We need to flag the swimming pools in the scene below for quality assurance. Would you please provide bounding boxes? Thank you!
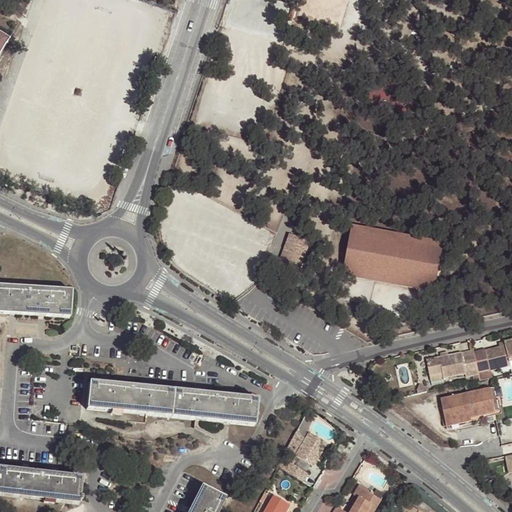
[498,378,512,407]
[280,479,290,490]
[310,414,335,444]
[398,363,413,388]
[354,461,390,491]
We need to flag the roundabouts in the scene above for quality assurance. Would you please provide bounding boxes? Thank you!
[88,236,138,286]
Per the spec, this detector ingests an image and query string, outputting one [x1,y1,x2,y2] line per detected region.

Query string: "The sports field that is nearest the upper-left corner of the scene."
[0,0,174,204]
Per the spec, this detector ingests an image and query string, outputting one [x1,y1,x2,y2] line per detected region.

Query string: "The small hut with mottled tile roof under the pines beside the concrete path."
[282,233,309,265]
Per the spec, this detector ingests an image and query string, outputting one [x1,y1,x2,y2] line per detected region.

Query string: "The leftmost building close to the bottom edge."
[0,464,85,506]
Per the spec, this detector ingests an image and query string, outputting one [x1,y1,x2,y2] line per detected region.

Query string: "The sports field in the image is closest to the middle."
[159,190,276,297]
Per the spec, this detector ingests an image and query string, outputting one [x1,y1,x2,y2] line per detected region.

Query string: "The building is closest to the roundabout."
[0,282,74,319]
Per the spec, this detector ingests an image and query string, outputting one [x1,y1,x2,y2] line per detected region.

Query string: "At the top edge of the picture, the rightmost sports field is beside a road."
[192,0,285,132]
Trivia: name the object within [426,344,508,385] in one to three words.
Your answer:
house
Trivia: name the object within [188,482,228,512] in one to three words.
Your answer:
building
